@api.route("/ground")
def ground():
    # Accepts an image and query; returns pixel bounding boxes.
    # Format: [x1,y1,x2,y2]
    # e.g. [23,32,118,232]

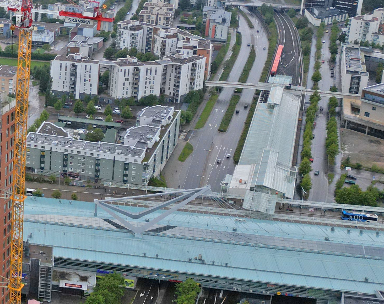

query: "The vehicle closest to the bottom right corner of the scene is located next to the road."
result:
[341,210,380,223]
